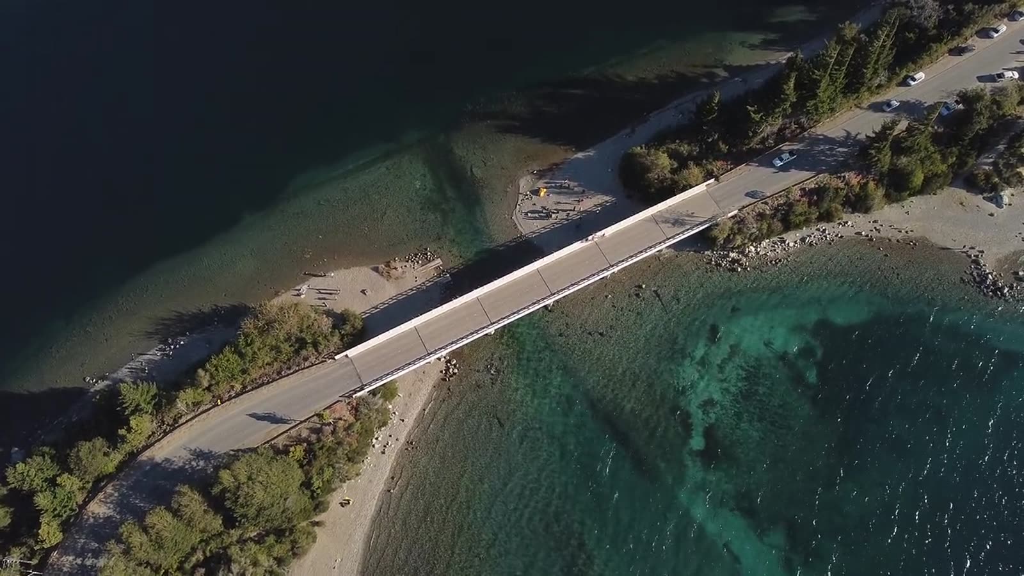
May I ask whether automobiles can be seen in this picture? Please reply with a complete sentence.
Yes, this view includes an automobile.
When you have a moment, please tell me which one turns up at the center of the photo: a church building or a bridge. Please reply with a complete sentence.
It is a bridge that can be seen at the center of the photo.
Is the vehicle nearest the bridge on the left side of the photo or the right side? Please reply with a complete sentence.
It is on the right.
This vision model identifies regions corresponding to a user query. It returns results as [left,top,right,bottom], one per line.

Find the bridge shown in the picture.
[332,175,743,394]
